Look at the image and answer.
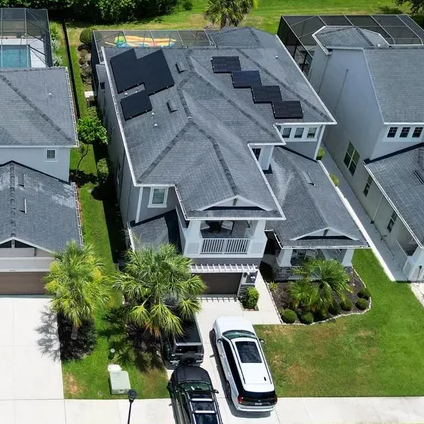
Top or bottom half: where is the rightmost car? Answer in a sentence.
It is in the bottom half that the rightmost car appears.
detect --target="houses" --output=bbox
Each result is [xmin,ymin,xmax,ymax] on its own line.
[0,65,85,292]
[102,29,373,298]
